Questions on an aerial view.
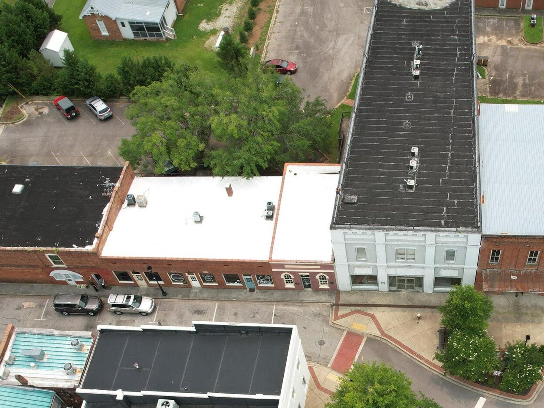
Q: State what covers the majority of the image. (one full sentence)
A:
The bulk of the photo consists of buildings.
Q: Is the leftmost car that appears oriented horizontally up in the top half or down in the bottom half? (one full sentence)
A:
The bottom half of the photo is where the leftmost car that appears oriented horizontally is.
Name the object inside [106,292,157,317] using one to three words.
car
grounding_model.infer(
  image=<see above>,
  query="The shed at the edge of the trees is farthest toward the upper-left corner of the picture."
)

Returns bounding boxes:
[45,23,73,66]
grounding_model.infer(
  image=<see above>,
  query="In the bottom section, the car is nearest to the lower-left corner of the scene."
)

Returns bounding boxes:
[51,290,104,314]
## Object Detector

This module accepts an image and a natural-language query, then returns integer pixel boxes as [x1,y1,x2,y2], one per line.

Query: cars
[260,56,301,76]
[52,94,81,122]
[106,292,157,317]
[84,97,115,124]
[51,290,104,314]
